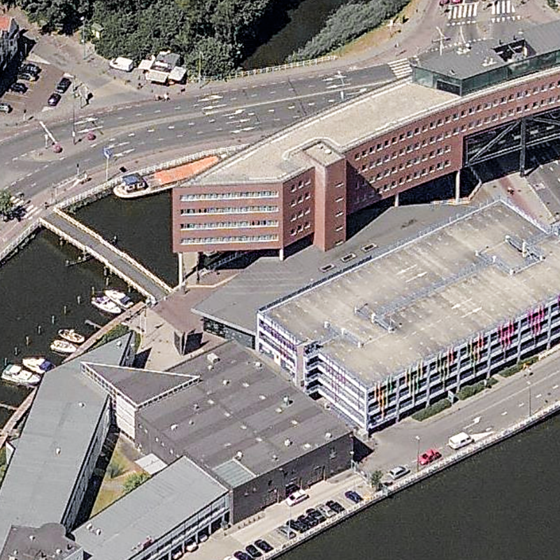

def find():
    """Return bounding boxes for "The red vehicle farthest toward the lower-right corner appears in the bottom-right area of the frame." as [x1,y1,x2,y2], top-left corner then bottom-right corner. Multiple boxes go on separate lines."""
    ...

[418,451,440,465]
